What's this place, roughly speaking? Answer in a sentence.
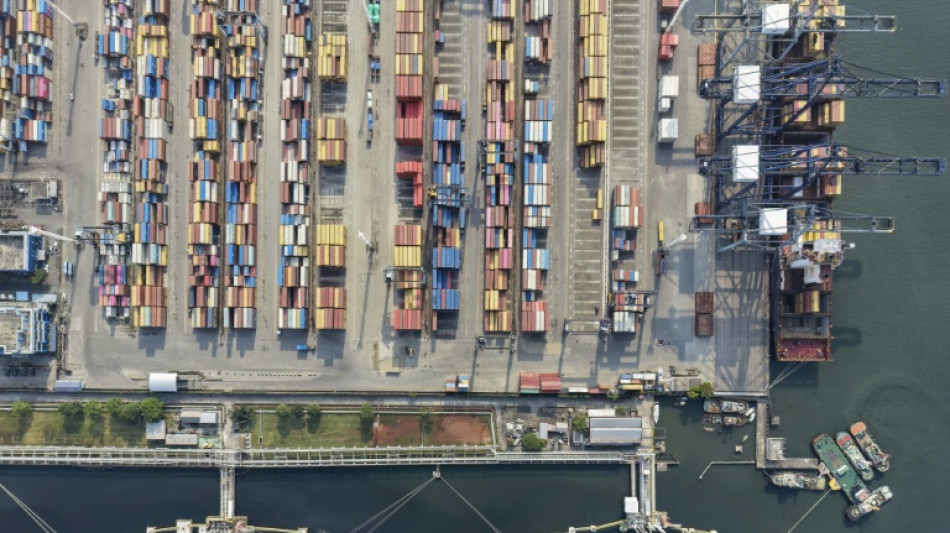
What you see here is a port.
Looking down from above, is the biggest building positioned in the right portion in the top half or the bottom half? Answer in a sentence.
Seen from above, the biggest building positioned in the right portion lies in the bottom half of the view.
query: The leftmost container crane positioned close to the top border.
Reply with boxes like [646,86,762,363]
[217,10,273,47]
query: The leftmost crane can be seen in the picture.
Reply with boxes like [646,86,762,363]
[78,225,143,250]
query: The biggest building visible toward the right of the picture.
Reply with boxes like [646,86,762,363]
[588,417,642,444]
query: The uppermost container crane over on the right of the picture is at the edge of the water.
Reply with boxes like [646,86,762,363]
[694,0,900,85]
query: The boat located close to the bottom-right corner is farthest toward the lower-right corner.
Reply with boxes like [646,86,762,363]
[846,487,894,519]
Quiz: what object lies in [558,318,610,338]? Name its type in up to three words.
container crane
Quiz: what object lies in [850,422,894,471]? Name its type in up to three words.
boat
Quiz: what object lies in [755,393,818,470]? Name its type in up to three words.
pier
